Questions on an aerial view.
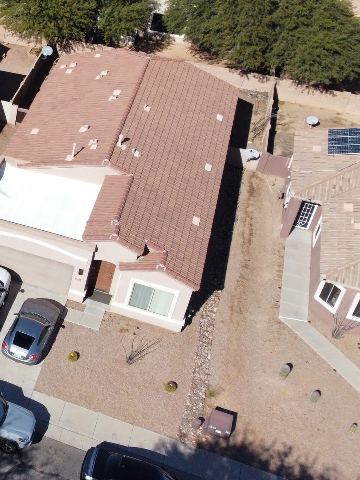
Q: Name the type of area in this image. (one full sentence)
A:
The picture captures a residential area.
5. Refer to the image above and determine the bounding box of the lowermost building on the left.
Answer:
[0,46,240,328]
